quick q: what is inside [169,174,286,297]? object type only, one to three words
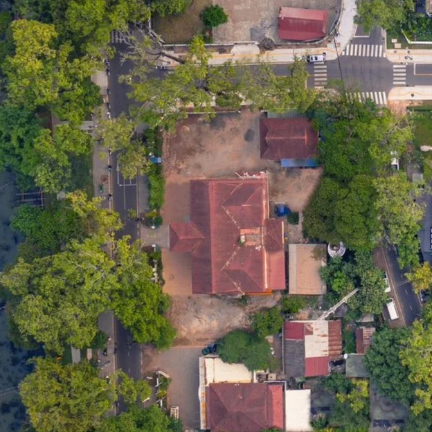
building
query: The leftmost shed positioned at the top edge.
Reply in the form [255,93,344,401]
[279,6,328,41]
